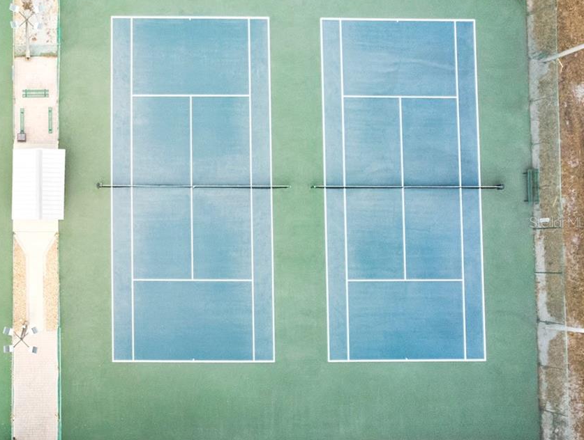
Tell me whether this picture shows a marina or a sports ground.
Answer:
sports ground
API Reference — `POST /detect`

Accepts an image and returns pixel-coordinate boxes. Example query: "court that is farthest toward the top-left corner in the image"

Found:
[112,17,275,362]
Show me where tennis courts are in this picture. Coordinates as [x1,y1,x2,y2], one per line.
[112,17,275,362]
[320,19,486,362]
